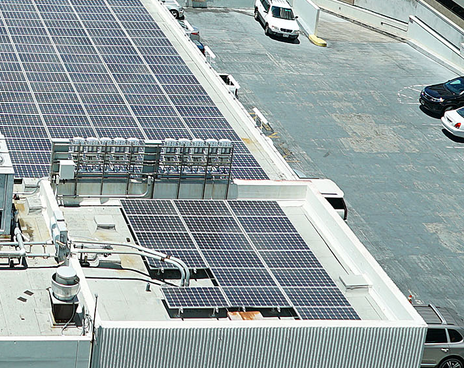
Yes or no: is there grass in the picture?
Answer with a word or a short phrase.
No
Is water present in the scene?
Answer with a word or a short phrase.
No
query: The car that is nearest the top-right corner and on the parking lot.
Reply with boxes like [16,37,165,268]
[412,67,464,110]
